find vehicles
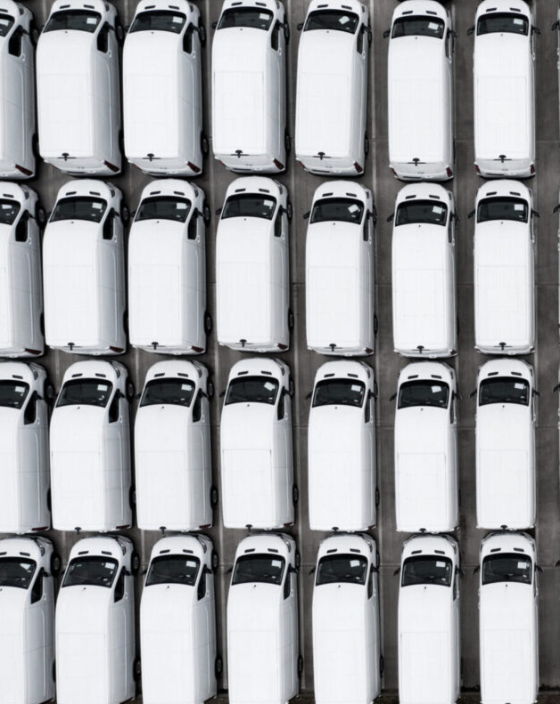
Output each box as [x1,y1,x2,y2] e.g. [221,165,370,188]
[308,531,381,704]
[466,0,540,180]
[225,530,303,704]
[382,0,457,183]
[139,532,223,704]
[218,357,299,533]
[51,358,138,535]
[210,0,291,175]
[467,180,540,355]
[134,358,219,535]
[0,0,46,181]
[386,182,459,358]
[302,180,377,356]
[389,360,461,536]
[123,0,209,179]
[44,179,132,355]
[0,180,49,357]
[0,360,56,534]
[56,533,142,704]
[472,530,543,704]
[304,359,379,535]
[393,532,464,704]
[0,534,62,704]
[214,175,295,353]
[469,357,540,533]
[296,0,371,178]
[129,178,213,355]
[38,0,127,178]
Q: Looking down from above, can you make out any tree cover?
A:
No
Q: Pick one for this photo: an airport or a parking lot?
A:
parking lot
